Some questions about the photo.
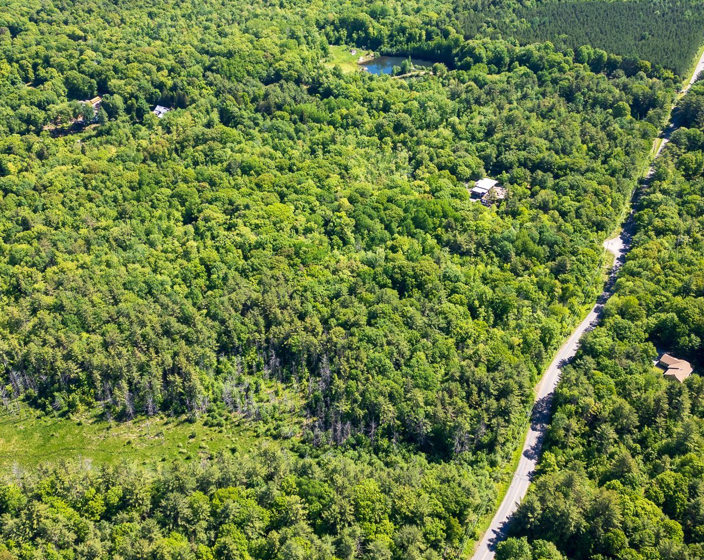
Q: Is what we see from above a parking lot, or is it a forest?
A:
forest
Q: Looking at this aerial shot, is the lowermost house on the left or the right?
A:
right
